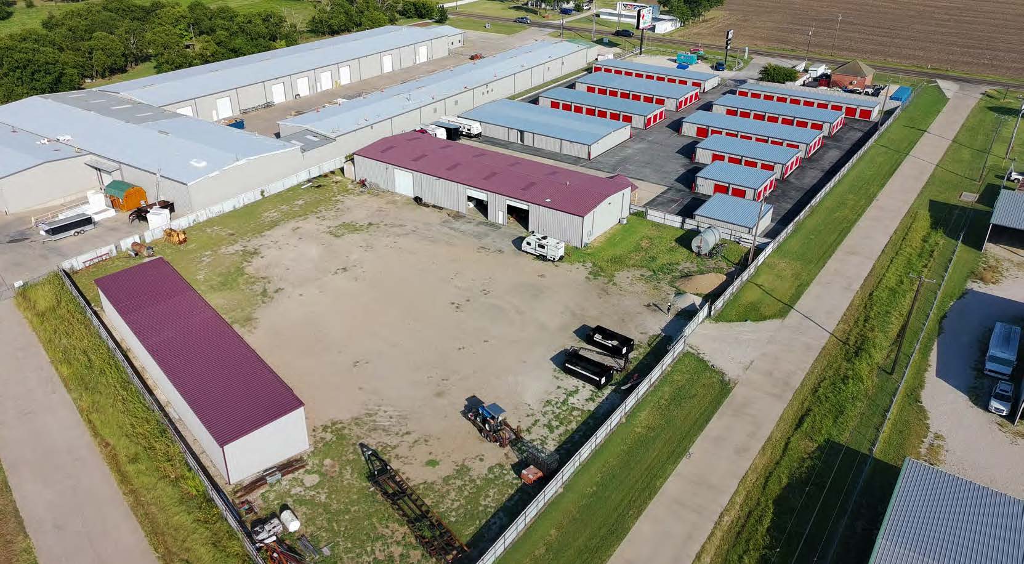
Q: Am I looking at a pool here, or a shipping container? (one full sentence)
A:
Looking from above, you can make out a shipping container.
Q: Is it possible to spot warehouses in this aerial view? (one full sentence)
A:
Yes, you can see a warehouse in this photo.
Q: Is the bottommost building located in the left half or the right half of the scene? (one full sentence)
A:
It is on the right.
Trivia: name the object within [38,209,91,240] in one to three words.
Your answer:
trailer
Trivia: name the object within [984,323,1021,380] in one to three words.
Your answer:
van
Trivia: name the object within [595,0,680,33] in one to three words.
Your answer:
building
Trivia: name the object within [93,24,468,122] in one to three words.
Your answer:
building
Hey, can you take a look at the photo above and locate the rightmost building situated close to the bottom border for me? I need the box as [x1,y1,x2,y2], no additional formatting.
[862,457,1024,564]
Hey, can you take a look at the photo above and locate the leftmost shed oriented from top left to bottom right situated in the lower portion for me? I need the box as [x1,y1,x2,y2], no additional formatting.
[93,255,309,483]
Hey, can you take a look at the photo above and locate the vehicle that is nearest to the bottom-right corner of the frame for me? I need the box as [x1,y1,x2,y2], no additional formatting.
[988,377,1016,414]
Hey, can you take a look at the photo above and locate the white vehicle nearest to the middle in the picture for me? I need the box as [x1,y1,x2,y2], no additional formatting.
[519,232,565,261]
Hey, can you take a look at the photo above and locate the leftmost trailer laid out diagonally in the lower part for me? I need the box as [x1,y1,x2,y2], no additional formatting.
[357,433,470,557]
